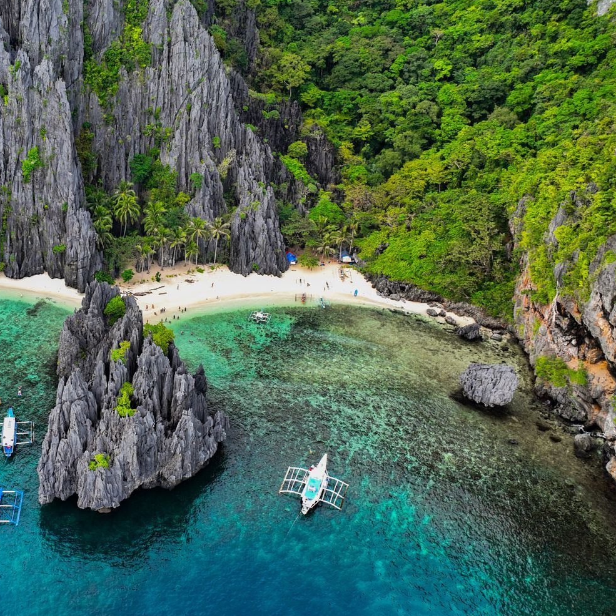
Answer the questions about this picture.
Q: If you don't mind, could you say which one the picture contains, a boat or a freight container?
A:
boat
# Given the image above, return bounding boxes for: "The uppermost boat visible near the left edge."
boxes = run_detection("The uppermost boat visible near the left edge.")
[0,406,34,460]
